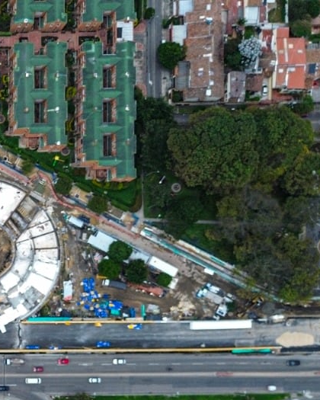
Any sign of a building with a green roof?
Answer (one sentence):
Yes, the picture does show a building with a green roof.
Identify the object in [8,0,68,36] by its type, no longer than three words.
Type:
building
